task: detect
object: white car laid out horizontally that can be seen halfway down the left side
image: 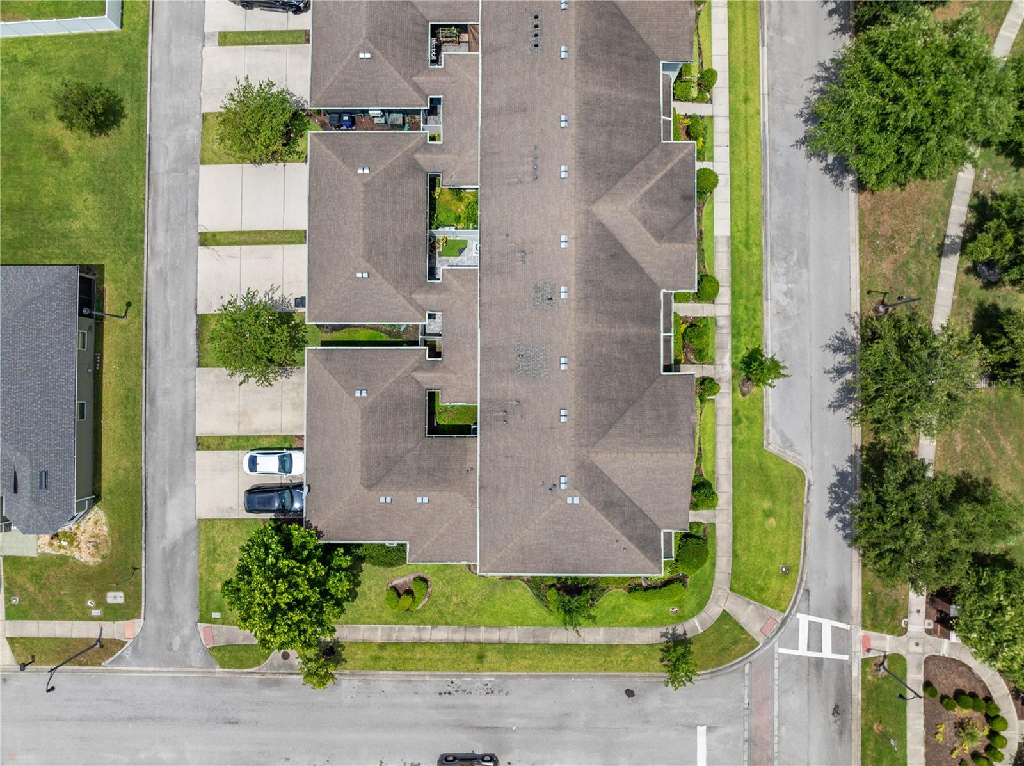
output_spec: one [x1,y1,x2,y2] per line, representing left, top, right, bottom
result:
[242,447,306,478]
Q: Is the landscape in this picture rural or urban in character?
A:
urban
